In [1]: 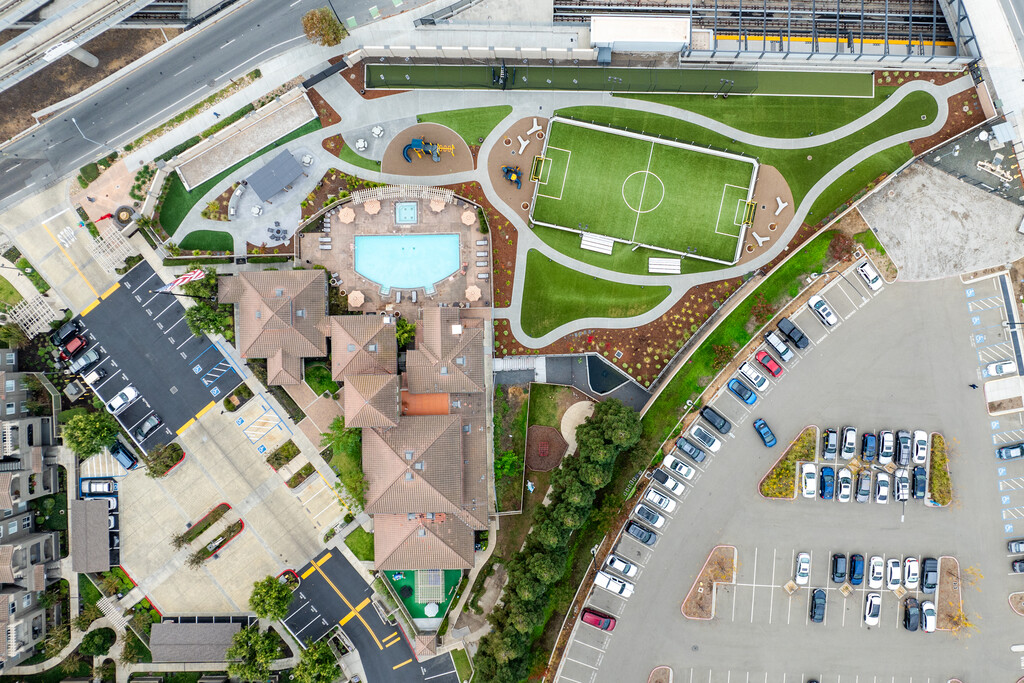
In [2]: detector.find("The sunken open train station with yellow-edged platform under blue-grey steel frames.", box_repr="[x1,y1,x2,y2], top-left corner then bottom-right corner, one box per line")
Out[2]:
[553,0,981,65]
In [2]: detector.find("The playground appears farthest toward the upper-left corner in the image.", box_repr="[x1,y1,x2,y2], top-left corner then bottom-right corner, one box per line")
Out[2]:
[402,133,456,163]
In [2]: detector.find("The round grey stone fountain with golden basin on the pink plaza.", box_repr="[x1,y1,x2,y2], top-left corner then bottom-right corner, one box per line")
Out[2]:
[112,205,133,225]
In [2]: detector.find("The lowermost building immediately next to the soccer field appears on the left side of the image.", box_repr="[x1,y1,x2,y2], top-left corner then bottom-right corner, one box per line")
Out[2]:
[217,270,488,570]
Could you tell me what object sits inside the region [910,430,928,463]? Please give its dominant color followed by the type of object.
white car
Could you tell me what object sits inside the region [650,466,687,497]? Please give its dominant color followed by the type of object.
white truck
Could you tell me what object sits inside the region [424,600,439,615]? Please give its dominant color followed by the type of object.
white umbrella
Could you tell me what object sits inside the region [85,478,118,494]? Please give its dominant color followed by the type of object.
white car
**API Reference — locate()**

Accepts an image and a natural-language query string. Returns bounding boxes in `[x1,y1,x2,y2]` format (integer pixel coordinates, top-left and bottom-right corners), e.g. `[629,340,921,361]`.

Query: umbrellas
[424,600,439,615]
[460,210,477,227]
[348,290,365,307]
[465,285,482,302]
[364,199,381,216]
[339,207,357,224]
[430,198,446,215]
[400,584,413,597]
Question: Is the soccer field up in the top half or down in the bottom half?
top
